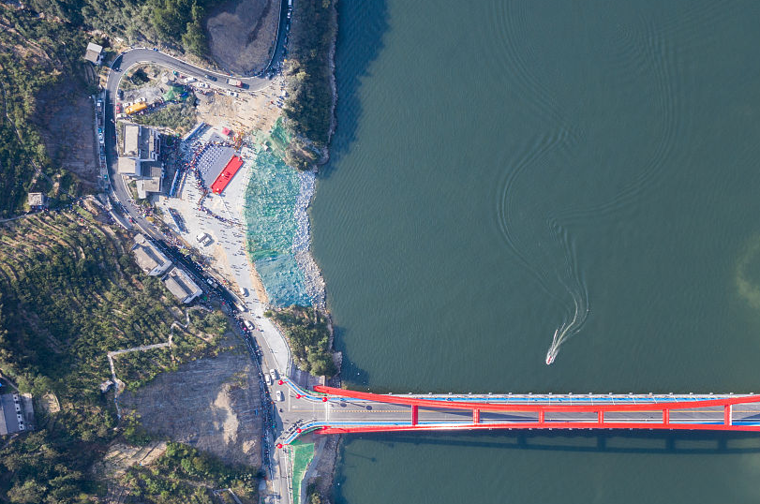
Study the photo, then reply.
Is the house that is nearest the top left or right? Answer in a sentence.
The house that is nearest the top is on the left side of the image.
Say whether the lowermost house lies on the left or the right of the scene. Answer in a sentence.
The lowermost house sits on the left side.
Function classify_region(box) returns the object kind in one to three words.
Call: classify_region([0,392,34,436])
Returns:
house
